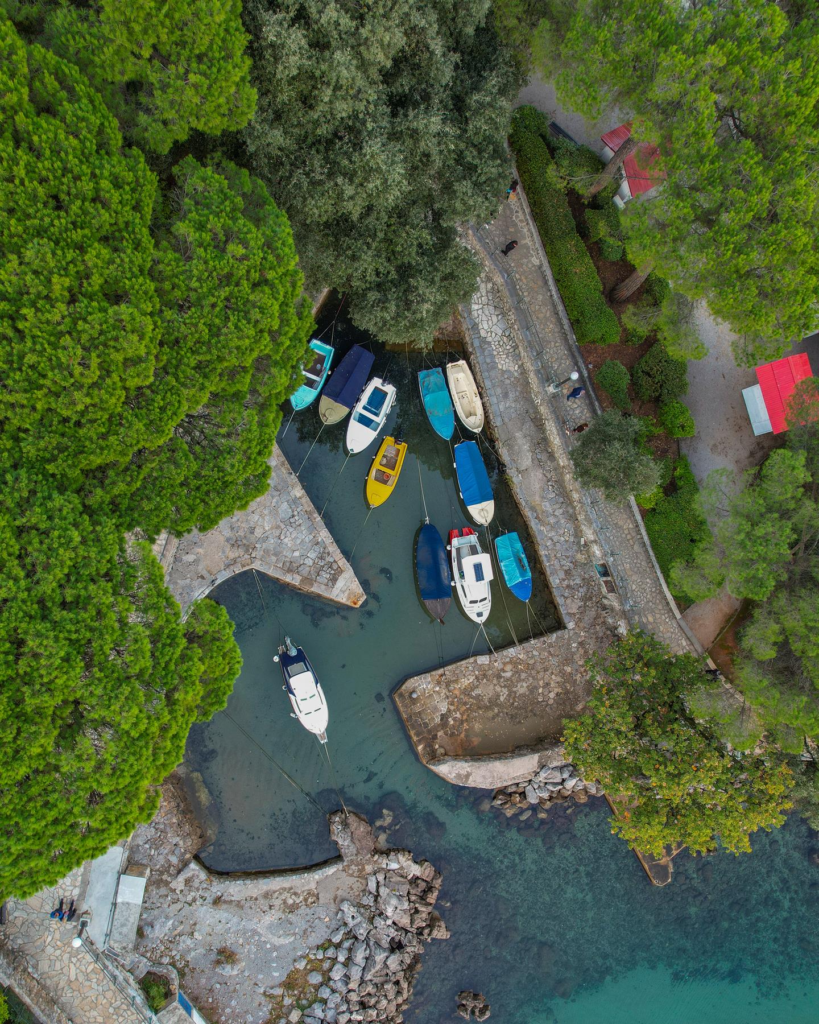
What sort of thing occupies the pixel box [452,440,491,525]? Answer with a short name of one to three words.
boat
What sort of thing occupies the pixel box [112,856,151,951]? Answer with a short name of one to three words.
building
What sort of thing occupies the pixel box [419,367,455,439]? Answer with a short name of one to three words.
boat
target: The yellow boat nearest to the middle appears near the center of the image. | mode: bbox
[367,435,406,508]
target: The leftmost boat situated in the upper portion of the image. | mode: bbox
[290,338,333,410]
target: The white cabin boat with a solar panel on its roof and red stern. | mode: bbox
[446,529,497,623]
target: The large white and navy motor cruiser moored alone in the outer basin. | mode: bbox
[270,632,331,747]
